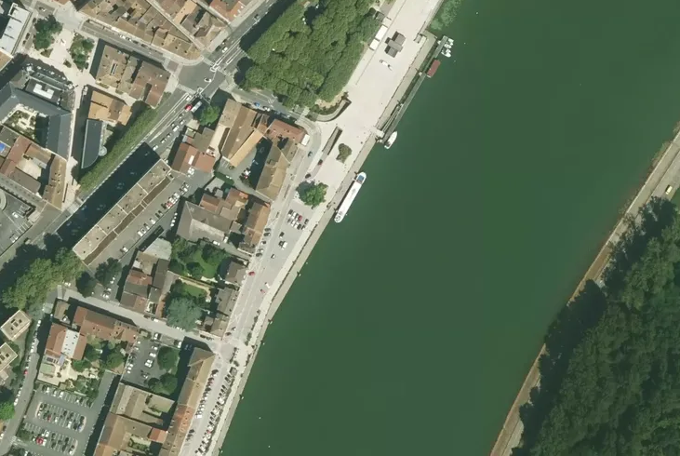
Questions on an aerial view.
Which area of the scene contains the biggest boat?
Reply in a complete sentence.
The biggest boat is located in the center region of the scene.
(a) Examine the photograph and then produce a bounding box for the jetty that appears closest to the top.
[381,36,448,137]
